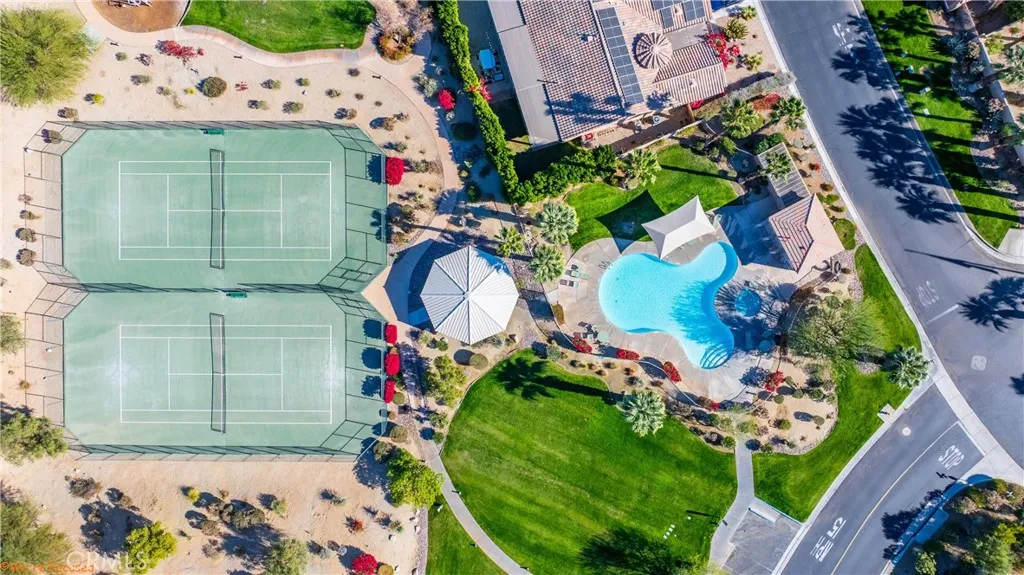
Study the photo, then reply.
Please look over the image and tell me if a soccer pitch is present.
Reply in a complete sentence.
No, no soccer pitch can be seen from above.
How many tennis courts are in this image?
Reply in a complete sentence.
I count 2 tennis courts.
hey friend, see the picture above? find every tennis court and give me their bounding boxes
[62,128,385,291]
[64,291,385,454]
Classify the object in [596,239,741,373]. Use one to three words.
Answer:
swimming pool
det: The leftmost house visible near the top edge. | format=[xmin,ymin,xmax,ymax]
[487,0,730,149]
